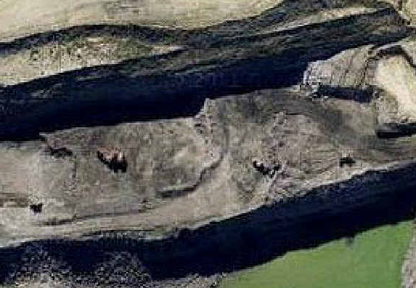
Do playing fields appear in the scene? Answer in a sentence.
No, I can't see a single playing field in this photo.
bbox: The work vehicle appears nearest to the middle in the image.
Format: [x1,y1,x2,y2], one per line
[253,159,274,171]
